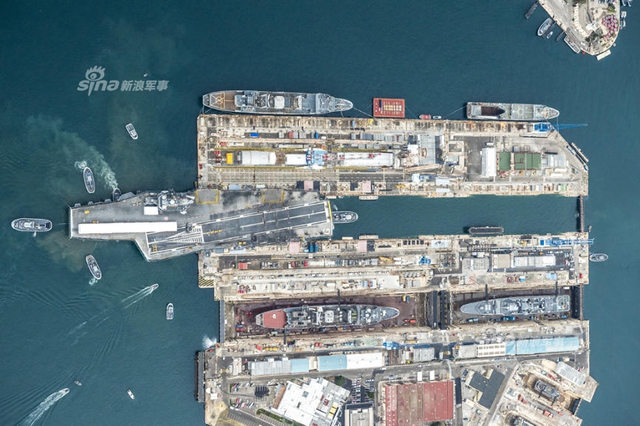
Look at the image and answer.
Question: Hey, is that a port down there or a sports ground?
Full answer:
What you see here is a port.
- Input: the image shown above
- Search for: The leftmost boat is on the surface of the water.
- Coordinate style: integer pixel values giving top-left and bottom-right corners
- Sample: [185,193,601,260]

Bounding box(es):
[11,218,52,233]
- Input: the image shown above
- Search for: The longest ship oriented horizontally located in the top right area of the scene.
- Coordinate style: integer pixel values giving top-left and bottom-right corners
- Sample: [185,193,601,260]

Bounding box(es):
[446,102,559,129]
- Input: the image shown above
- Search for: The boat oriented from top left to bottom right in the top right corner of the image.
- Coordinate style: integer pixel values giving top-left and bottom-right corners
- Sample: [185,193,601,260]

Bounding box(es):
[564,36,581,54]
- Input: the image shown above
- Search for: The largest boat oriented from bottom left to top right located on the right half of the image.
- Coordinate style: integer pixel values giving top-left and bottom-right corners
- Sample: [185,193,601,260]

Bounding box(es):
[538,19,552,35]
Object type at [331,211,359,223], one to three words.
boat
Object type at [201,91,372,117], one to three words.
ship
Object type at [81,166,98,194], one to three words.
boat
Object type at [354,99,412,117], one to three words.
ship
